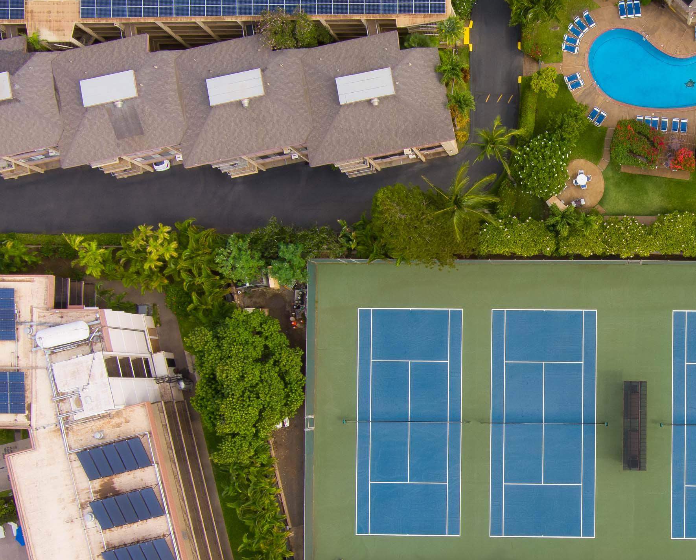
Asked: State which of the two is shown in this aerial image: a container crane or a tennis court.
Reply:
tennis court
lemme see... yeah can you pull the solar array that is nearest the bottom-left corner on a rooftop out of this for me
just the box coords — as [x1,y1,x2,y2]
[0,371,29,414]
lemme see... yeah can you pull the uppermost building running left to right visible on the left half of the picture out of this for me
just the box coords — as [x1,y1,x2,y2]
[0,31,458,180]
